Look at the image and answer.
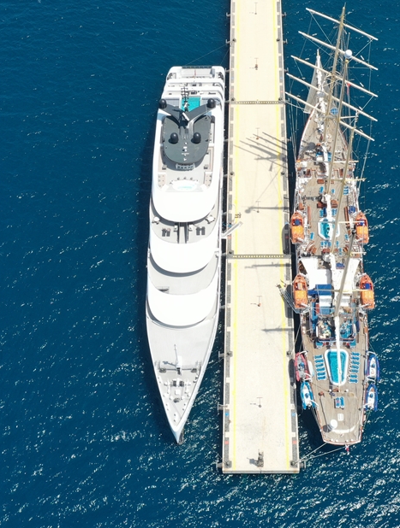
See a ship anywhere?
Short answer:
Yes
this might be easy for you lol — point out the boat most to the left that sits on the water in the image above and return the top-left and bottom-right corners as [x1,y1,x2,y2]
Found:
[145,64,225,442]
